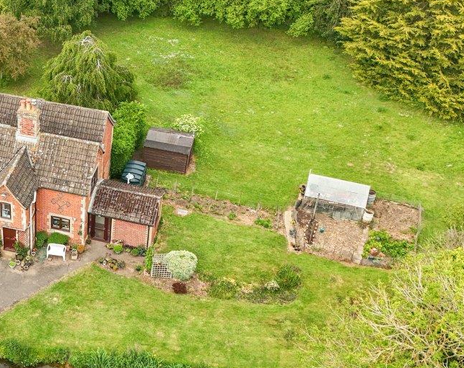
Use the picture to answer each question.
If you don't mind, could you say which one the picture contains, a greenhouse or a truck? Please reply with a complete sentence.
Looking from above, you can make out a greenhouse.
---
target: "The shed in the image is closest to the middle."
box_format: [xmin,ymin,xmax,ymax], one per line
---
[143,131,191,173]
